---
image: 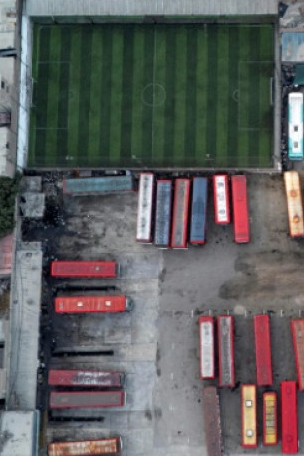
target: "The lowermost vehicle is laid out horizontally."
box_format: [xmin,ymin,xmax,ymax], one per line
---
[48,437,125,456]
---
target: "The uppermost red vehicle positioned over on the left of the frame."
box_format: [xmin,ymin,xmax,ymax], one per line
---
[51,260,121,277]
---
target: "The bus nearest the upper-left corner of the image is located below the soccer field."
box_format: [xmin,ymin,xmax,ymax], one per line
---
[61,176,136,196]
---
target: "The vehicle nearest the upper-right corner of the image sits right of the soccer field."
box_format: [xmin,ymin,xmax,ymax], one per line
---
[287,92,304,166]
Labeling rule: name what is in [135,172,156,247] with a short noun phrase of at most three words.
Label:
bus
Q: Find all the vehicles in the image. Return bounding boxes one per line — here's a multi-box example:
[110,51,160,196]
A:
[48,370,126,386]
[281,380,298,455]
[48,437,125,456]
[241,384,258,449]
[135,172,156,247]
[291,319,304,392]
[218,315,235,387]
[50,389,128,407]
[214,175,231,228]
[232,175,251,247]
[154,179,173,251]
[61,176,136,196]
[254,314,272,387]
[51,260,121,277]
[190,177,209,247]
[171,179,191,252]
[262,391,278,446]
[284,171,304,241]
[55,296,131,312]
[287,92,304,166]
[199,315,216,380]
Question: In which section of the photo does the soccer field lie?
top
